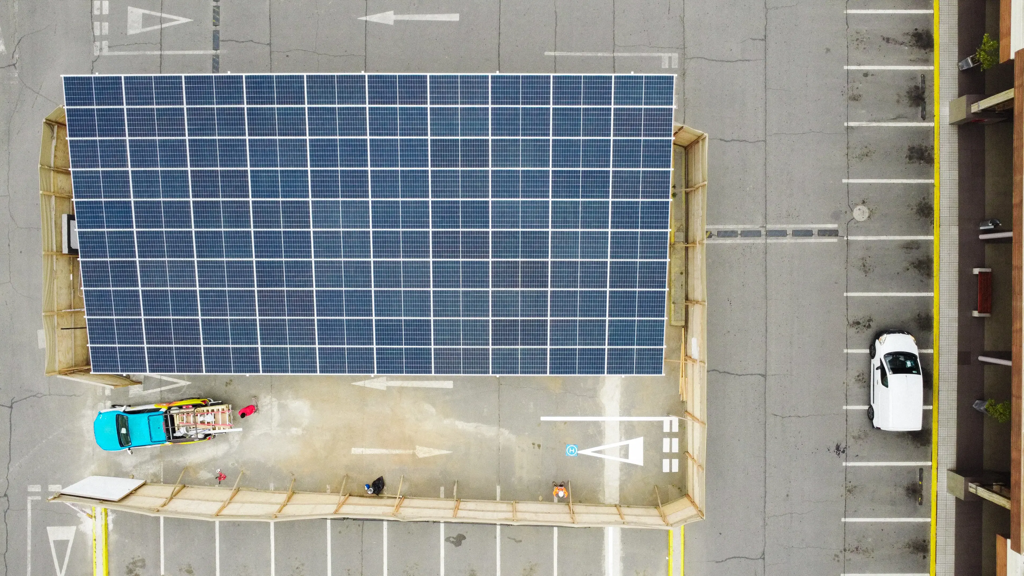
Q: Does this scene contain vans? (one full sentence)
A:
Yes, a van appears in the view.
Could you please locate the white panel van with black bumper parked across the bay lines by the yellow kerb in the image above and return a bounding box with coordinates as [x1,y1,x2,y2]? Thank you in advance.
[865,328,926,435]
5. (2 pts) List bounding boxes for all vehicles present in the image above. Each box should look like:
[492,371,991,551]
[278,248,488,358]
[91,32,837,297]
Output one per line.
[865,328,926,435]
[94,391,227,451]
